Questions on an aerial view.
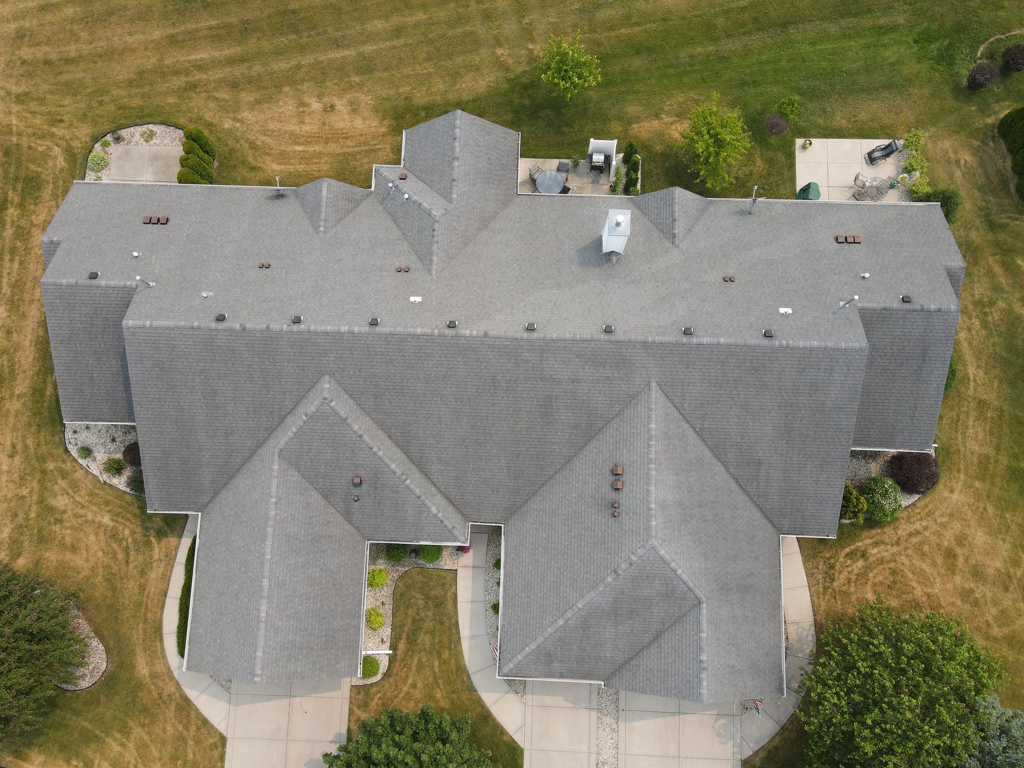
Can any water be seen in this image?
No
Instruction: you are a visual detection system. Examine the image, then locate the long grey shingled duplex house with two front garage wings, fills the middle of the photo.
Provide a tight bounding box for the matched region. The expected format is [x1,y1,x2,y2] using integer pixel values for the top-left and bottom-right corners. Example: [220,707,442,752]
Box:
[40,112,964,704]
